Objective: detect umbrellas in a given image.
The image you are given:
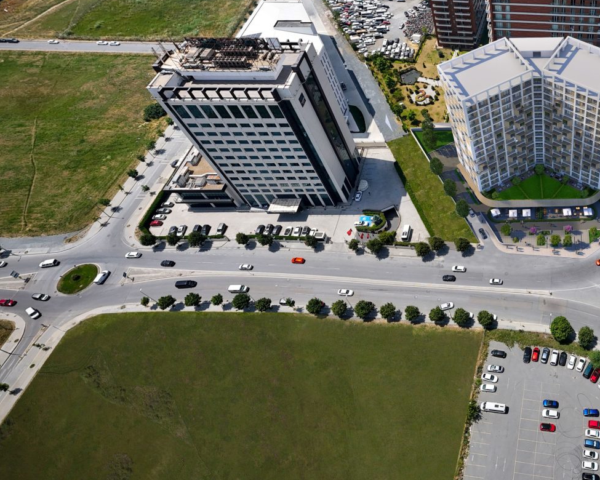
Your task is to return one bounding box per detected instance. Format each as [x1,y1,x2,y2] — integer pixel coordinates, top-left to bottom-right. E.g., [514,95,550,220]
[508,210,518,218]
[562,209,572,216]
[490,209,501,217]
[522,210,532,217]
[583,208,593,216]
